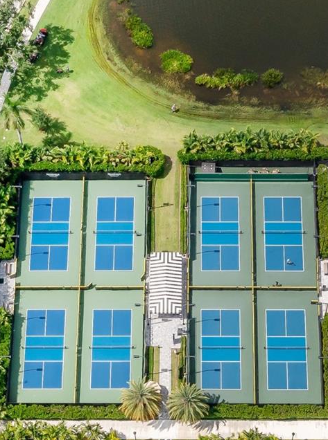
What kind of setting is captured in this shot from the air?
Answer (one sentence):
This looks like a sports ground.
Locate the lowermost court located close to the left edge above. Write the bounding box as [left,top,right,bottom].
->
[9,289,79,403]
